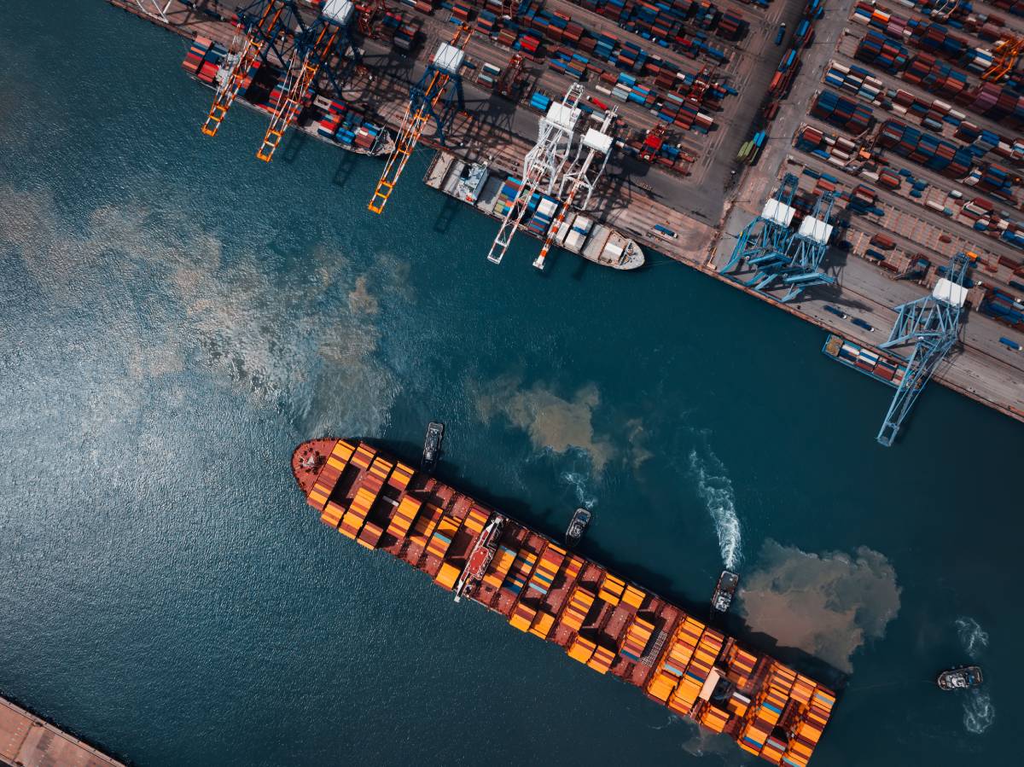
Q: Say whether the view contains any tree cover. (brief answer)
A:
No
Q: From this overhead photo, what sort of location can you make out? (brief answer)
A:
port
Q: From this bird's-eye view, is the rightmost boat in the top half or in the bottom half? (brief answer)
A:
bottom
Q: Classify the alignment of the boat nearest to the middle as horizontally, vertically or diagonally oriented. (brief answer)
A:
vertically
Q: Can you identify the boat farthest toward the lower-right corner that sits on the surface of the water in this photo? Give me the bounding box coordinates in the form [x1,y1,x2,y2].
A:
[938,666,988,692]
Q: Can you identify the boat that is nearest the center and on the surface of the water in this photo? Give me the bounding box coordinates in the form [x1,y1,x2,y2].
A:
[422,421,442,470]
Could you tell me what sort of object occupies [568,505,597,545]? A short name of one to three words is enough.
boat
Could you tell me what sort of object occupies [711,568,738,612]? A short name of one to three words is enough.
boat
